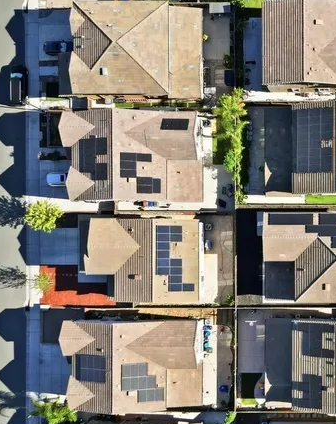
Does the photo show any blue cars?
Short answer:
Yes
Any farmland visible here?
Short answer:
No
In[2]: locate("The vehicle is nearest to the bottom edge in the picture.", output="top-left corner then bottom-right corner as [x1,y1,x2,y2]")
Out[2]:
[44,171,69,188]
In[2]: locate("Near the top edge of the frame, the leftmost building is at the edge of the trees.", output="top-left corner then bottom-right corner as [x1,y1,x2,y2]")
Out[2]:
[58,1,203,100]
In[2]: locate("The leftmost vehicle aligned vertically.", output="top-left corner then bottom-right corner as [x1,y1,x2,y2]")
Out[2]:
[9,67,28,108]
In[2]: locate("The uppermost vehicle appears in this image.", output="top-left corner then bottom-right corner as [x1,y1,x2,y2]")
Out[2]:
[42,38,73,57]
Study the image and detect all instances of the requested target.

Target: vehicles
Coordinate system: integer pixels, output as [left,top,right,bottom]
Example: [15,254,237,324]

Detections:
[42,38,73,57]
[44,171,69,188]
[9,67,28,108]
